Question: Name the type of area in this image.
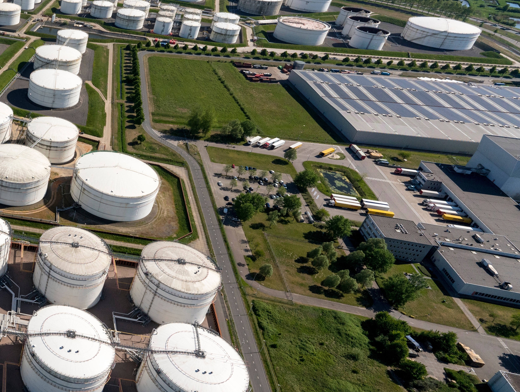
industrial area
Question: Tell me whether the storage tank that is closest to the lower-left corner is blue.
No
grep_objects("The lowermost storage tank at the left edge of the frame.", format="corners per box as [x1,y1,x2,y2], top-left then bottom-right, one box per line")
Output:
[17,305,117,392]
